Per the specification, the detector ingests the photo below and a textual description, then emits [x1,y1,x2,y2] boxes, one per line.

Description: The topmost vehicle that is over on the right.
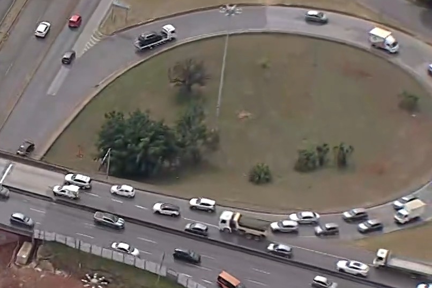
[304,10,327,22]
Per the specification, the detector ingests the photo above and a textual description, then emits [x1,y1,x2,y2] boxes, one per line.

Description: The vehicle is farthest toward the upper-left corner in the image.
[35,23,49,37]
